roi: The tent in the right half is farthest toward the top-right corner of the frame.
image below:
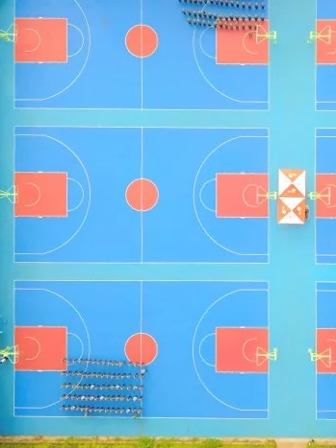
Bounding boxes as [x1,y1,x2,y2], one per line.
[278,169,306,198]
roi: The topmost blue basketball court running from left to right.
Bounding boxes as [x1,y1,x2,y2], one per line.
[14,0,269,110]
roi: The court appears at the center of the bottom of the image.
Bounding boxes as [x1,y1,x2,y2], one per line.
[14,281,269,420]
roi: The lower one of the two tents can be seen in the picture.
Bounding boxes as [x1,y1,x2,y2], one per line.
[277,198,306,225]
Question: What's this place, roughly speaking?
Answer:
sports ground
